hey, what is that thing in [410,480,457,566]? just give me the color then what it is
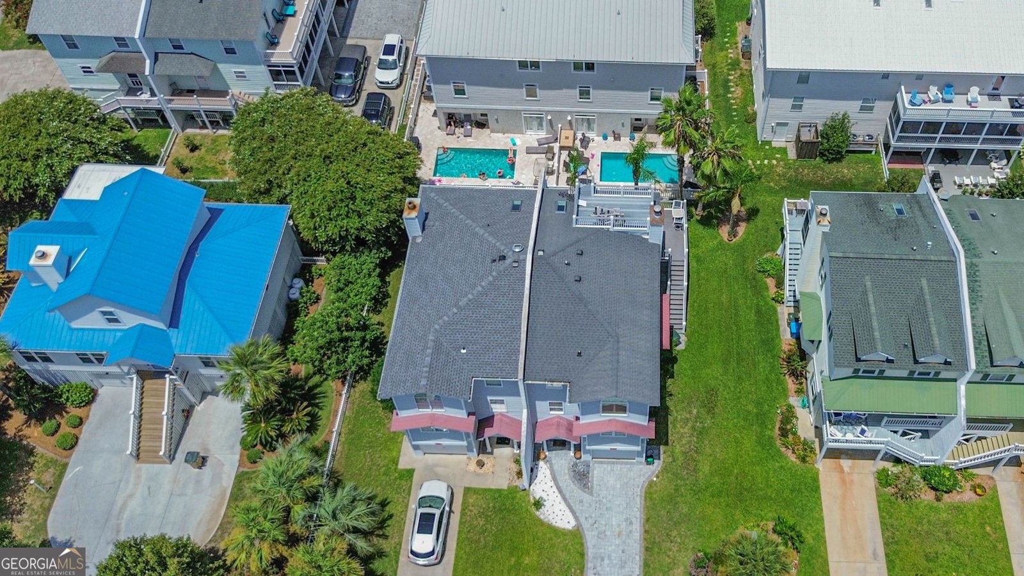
white car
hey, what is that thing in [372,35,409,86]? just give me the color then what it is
white car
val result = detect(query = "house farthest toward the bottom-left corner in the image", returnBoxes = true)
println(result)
[0,164,303,464]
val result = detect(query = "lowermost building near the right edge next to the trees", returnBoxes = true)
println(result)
[777,178,1024,471]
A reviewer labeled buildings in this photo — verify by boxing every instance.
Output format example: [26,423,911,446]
[378,160,690,487]
[0,164,303,464]
[755,0,1024,170]
[413,0,699,134]
[24,0,348,135]
[777,178,1024,471]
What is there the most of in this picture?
buildings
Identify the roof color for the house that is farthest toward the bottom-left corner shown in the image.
blue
